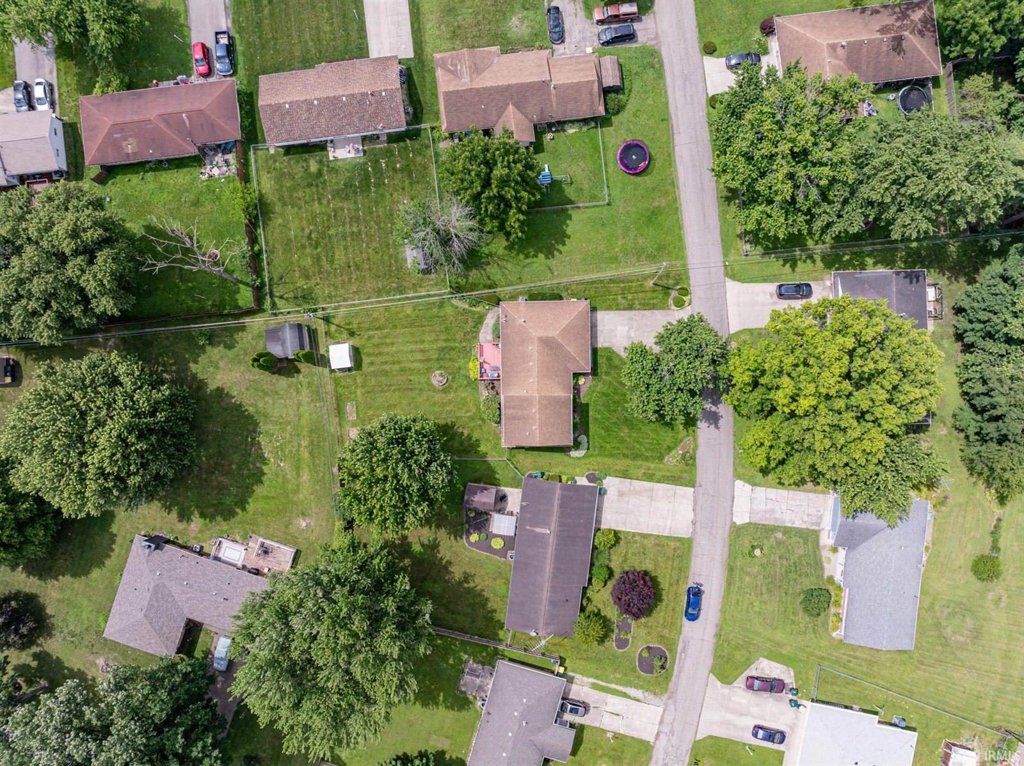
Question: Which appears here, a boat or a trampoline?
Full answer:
There is a trampoline in the scene.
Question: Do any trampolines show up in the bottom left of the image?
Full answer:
No, no trampoline is visible in the bottom left of the image.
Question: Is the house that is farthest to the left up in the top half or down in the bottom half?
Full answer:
The house that is farthest to the left is in the top half of the image.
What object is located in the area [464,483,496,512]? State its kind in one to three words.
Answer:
shed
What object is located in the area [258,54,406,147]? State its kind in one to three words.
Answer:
house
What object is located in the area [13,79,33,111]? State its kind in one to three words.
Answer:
car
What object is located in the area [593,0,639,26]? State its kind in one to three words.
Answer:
truck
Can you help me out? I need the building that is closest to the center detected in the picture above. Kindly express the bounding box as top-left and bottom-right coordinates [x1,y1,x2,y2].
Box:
[500,300,591,447]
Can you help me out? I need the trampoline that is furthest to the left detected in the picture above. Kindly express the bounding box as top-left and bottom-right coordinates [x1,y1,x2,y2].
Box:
[616,140,650,174]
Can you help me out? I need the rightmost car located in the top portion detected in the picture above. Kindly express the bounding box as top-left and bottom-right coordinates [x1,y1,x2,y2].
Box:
[775,283,813,300]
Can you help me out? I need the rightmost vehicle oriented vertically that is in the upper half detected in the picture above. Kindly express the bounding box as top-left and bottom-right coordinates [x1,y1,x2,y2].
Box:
[546,6,564,45]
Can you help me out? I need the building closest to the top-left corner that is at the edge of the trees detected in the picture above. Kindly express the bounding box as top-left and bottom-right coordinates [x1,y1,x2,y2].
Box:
[0,109,71,192]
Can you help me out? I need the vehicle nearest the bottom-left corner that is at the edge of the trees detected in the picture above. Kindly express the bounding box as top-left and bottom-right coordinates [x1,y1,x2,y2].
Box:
[210,633,234,673]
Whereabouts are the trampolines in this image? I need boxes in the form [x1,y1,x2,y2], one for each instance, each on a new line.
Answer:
[616,140,650,174]
[897,86,928,116]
